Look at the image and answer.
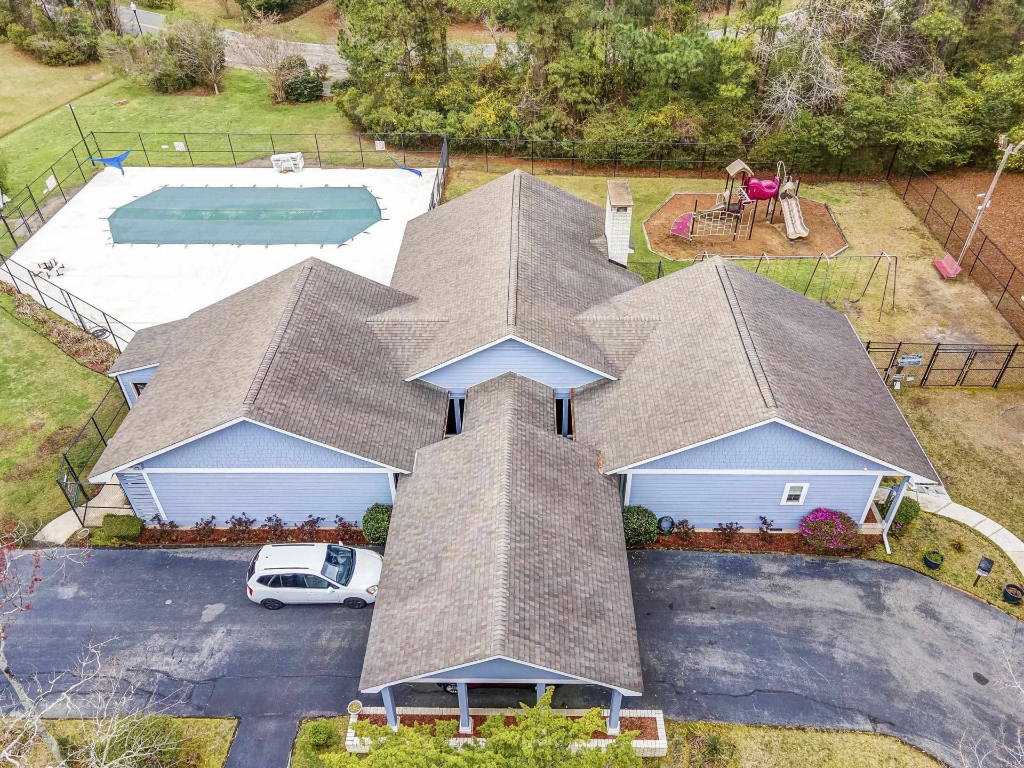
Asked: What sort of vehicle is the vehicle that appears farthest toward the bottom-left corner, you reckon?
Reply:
automobile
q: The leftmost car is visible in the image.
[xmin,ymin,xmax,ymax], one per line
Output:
[242,540,384,608]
